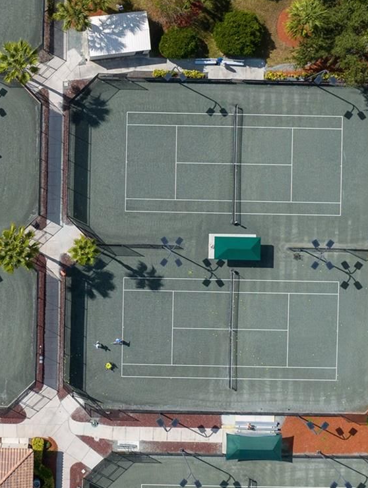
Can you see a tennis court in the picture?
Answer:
Yes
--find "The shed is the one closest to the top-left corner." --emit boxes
[87,11,150,58]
